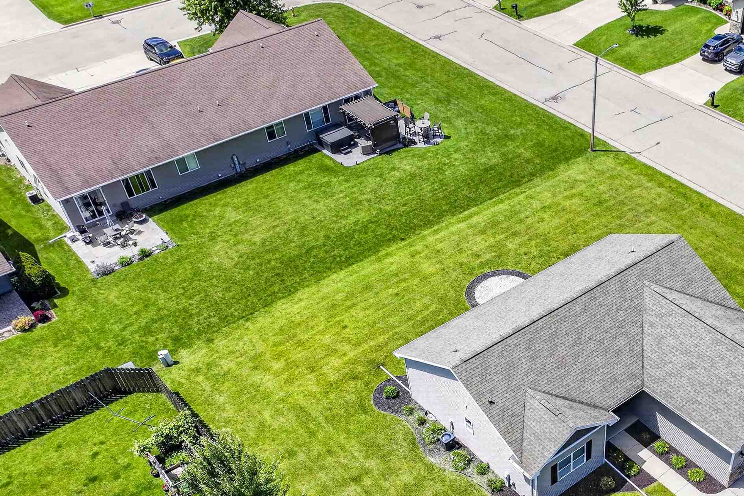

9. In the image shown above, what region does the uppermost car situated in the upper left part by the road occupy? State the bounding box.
[141,29,180,62]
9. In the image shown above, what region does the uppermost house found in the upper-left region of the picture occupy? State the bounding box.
[0,9,378,230]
